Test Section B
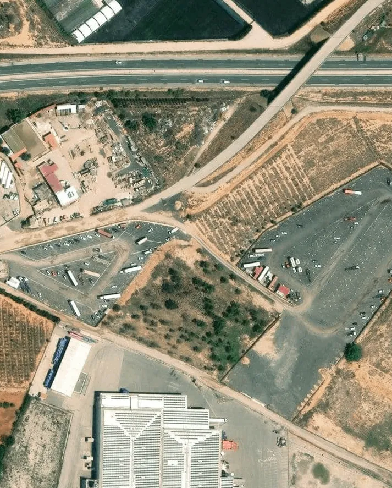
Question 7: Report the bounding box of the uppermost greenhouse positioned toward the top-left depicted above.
[71,0,122,43]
